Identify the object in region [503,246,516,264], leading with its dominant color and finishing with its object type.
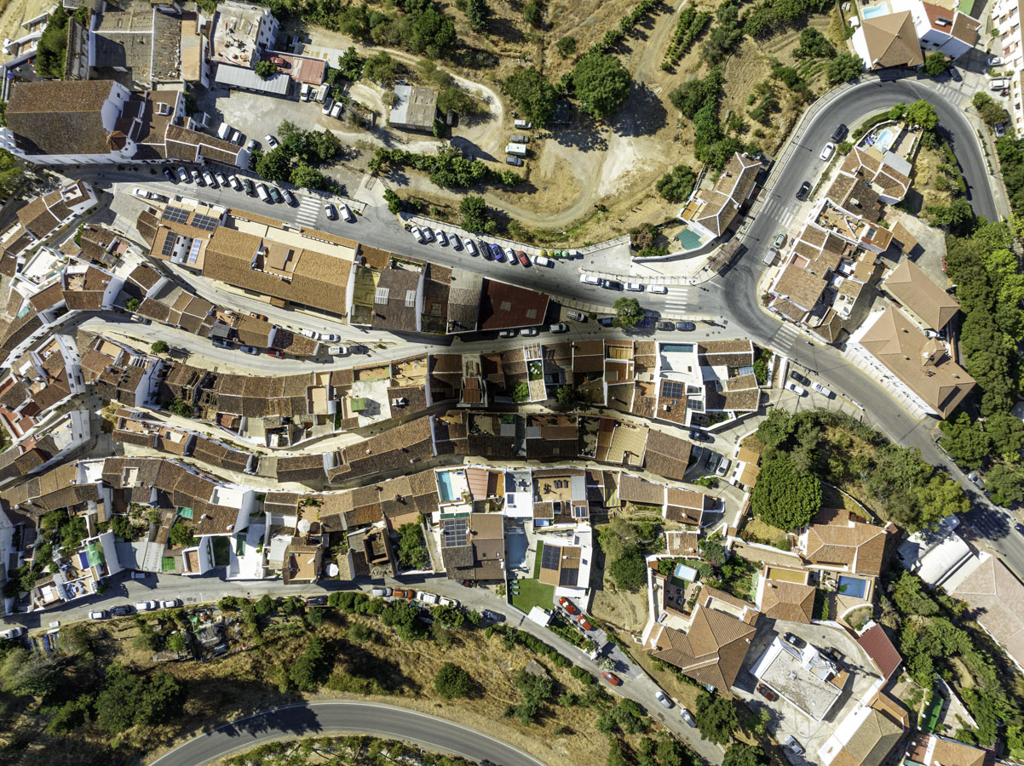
white vehicle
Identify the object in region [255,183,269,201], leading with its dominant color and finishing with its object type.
white car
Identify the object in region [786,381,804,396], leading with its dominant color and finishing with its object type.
white car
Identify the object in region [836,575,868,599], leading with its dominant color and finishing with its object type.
blue swimming pool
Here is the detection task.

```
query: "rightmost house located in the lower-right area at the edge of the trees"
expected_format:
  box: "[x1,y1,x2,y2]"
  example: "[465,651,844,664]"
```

[943,551,1024,673]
